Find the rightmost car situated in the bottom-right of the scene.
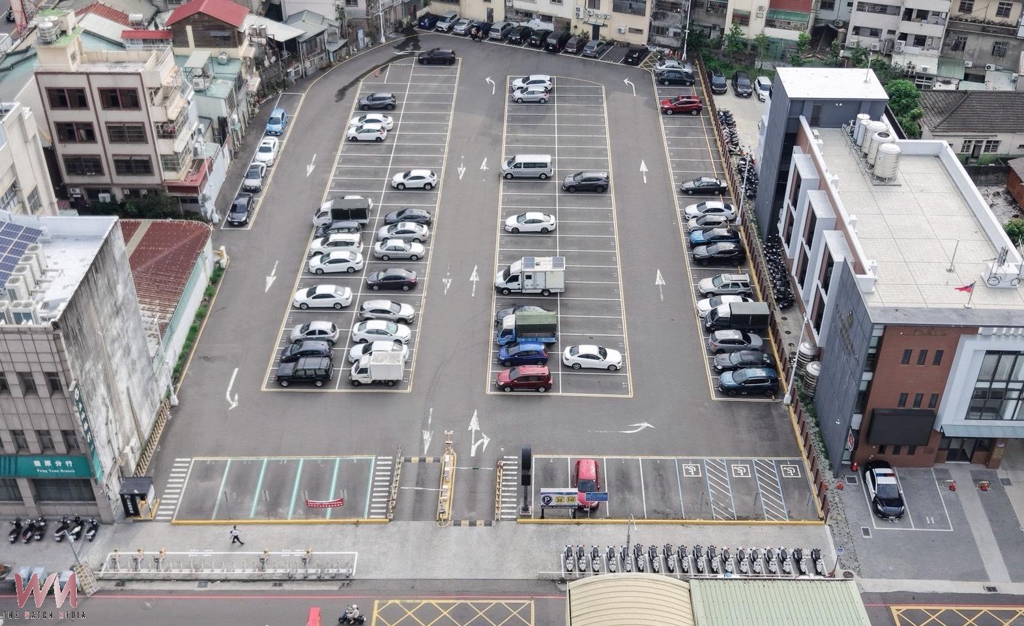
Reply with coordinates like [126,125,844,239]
[865,459,912,517]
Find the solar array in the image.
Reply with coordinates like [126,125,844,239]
[0,222,42,295]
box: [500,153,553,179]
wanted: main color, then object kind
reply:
white vehicle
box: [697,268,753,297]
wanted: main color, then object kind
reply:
gray car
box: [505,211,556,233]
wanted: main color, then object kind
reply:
white car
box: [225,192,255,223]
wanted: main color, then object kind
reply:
gray car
